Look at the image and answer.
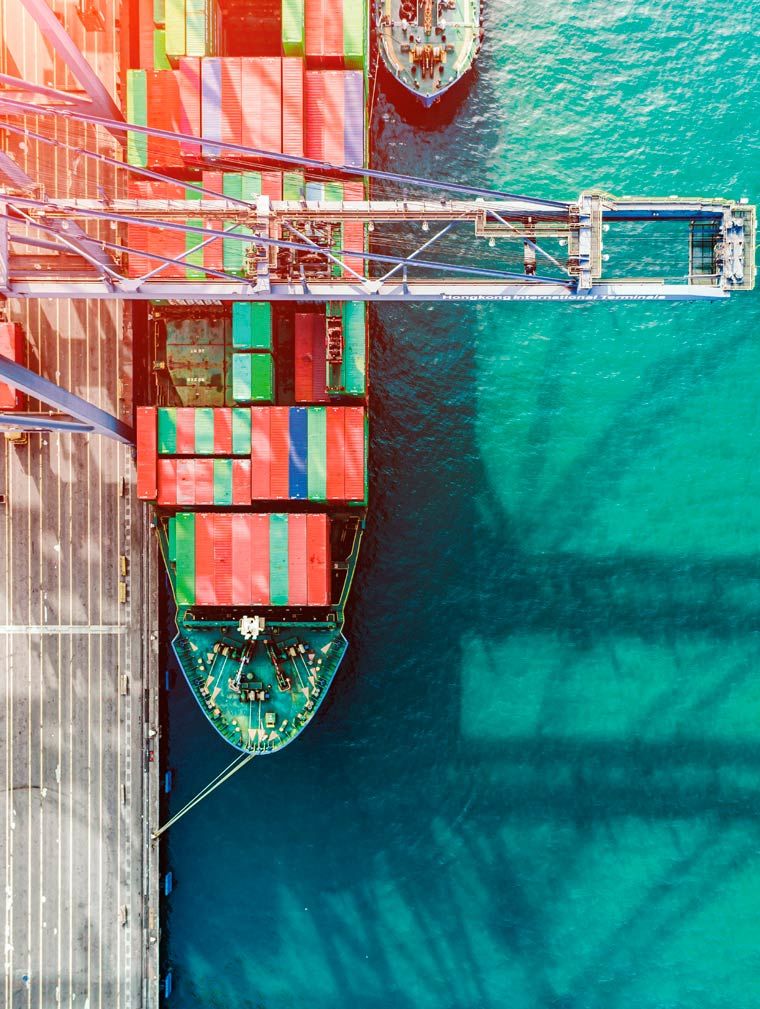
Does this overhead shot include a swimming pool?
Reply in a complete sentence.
No, no swimming pool is visible in the view.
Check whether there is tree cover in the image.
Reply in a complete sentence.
No, there's no tree cover in this view.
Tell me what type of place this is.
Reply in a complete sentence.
This looks like a port.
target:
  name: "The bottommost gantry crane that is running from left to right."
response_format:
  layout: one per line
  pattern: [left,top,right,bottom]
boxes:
[0,97,759,449]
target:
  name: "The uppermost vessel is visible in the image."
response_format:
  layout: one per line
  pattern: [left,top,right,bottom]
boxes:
[378,0,480,107]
